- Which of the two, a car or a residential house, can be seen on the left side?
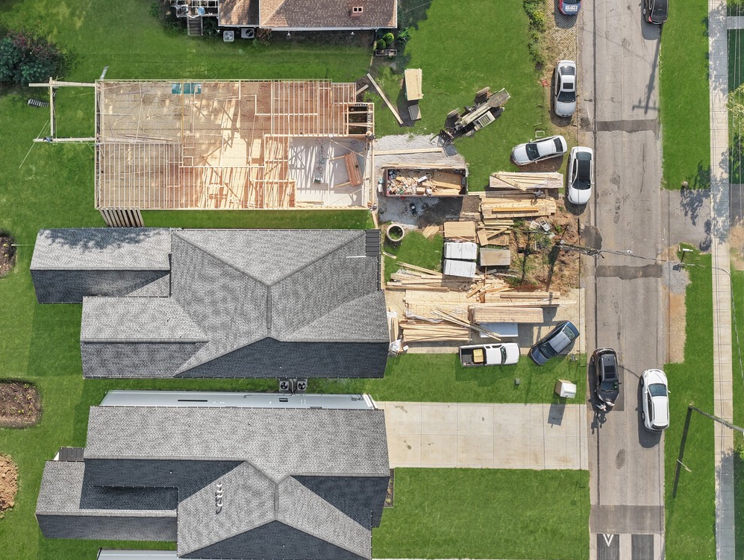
residential house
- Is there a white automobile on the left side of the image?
No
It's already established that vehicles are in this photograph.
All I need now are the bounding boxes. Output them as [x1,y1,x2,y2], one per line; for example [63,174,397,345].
[455,341,520,370]
[525,316,581,368]
[426,86,517,153]
[507,134,569,167]
[549,58,581,118]
[555,0,584,18]
[562,145,596,205]
[588,345,624,411]
[637,0,669,24]
[636,368,672,433]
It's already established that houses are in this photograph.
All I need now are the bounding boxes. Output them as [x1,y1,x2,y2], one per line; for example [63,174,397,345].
[29,226,389,379]
[217,0,398,35]
[35,390,389,560]
[94,79,374,210]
